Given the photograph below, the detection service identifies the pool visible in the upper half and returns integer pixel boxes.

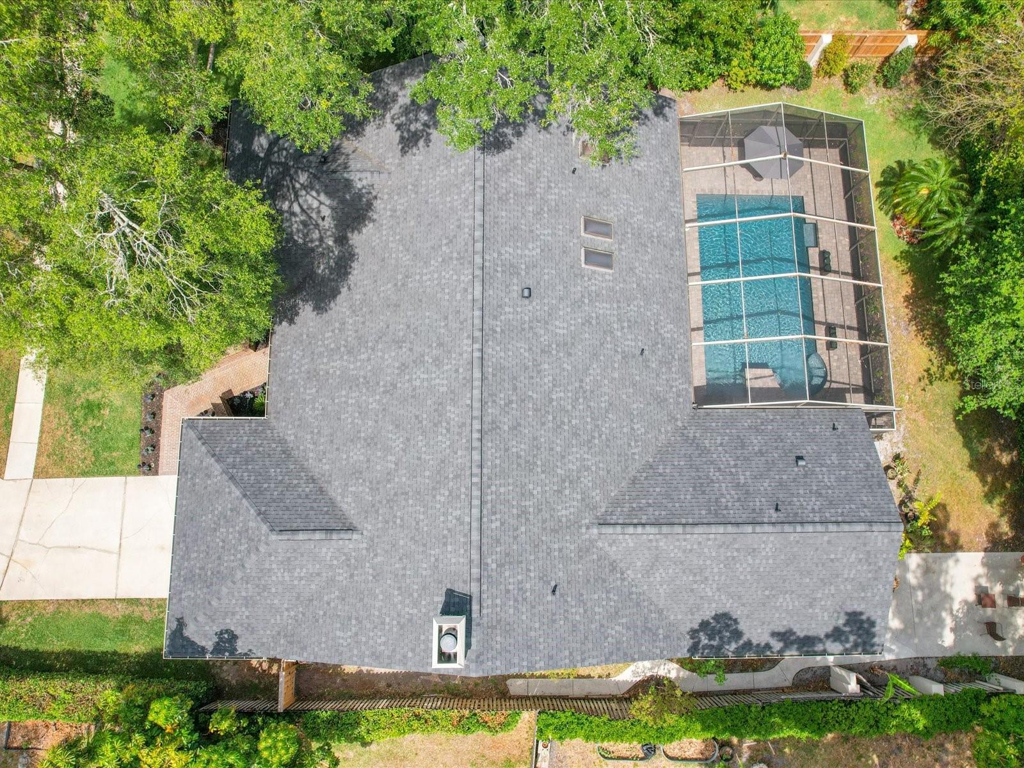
[697,194,834,409]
